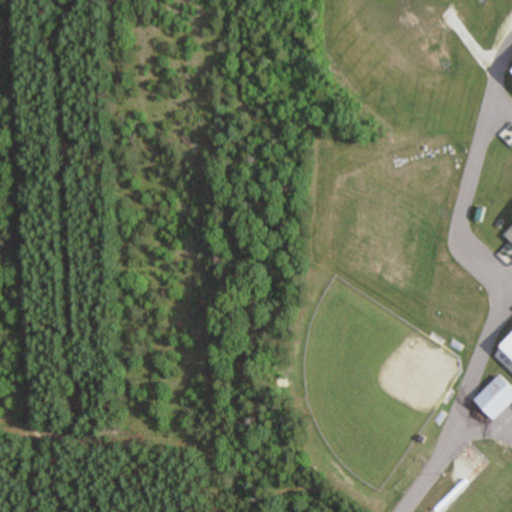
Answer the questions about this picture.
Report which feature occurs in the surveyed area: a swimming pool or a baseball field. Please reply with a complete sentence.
Looking from above, you can make out a baseball field.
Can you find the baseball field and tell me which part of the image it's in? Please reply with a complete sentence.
The baseball field is in the bottom right part of the image.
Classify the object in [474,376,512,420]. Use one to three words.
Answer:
house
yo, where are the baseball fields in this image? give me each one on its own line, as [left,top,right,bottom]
[304,278,463,490]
